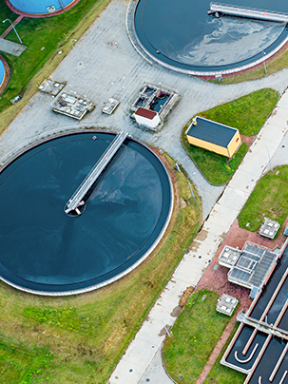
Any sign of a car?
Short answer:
No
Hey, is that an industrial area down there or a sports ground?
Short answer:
industrial area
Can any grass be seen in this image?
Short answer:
Yes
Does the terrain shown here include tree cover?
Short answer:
No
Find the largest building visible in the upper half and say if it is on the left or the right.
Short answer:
right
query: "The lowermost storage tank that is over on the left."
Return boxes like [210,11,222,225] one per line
[0,128,172,298]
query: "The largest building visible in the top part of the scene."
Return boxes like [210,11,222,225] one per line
[185,114,245,158]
